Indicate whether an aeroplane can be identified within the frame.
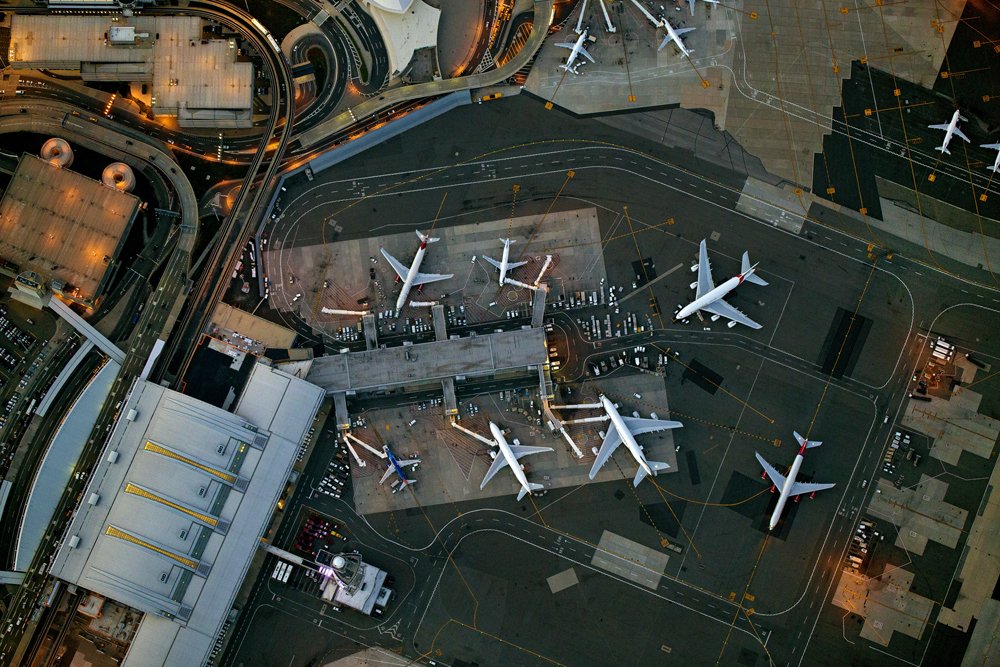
Yes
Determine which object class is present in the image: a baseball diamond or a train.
train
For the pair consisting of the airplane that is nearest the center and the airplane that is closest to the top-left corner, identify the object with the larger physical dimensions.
the airplane that is closest to the top-left corner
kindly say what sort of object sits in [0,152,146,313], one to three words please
building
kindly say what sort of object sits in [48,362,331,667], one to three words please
building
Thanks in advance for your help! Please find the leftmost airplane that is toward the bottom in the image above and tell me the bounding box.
[377,448,421,489]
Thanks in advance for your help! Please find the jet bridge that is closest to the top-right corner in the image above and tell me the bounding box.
[632,0,661,29]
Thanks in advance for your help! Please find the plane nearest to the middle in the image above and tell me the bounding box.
[481,237,528,286]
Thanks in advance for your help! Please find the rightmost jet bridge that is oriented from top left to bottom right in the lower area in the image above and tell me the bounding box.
[558,425,584,459]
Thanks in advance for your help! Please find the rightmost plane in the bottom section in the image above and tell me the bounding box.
[754,435,839,529]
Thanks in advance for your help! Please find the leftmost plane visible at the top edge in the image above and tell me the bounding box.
[555,30,595,71]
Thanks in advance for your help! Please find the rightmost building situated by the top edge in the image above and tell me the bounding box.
[370,0,441,85]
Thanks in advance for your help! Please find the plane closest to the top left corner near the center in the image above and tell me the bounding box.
[380,232,454,310]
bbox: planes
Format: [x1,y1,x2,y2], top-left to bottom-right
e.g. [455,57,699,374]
[481,237,528,286]
[676,242,769,330]
[659,18,697,59]
[586,395,682,486]
[555,30,595,71]
[377,448,421,489]
[928,110,972,155]
[980,140,1000,173]
[480,422,554,500]
[754,435,839,529]
[380,232,454,310]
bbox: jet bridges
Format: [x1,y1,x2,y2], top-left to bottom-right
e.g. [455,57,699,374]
[600,0,614,33]
[345,431,387,461]
[408,301,438,311]
[632,0,661,29]
[560,414,611,425]
[342,435,367,468]
[558,425,584,459]
[550,401,603,410]
[534,254,552,287]
[503,277,539,291]
[321,308,369,317]
[451,421,494,447]
[574,0,588,34]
